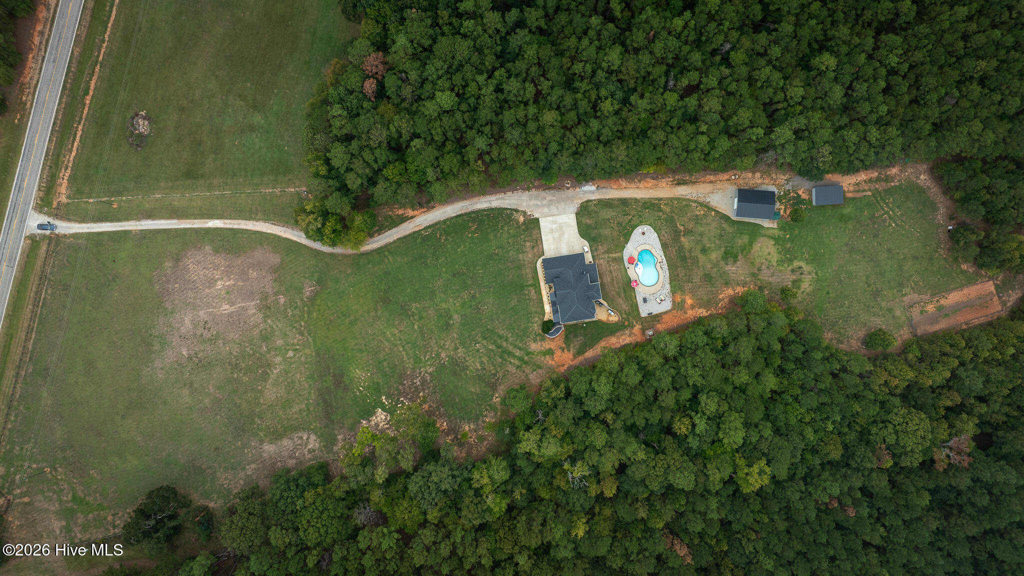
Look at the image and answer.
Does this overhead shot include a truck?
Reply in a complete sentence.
No, I find no truck anywhere in the image.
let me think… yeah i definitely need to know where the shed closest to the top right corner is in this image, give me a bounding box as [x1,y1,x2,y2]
[811,185,843,206]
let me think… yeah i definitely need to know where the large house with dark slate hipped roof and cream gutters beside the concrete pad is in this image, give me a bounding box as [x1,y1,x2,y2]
[542,252,602,324]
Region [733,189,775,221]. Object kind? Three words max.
building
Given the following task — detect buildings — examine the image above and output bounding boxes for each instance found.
[733,189,775,221]
[811,185,843,206]
[542,252,602,324]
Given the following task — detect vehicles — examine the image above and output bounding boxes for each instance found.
[582,245,589,253]
[33,220,55,231]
